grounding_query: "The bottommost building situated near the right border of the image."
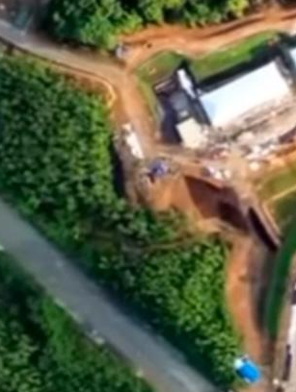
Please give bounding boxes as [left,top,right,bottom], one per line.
[200,61,292,128]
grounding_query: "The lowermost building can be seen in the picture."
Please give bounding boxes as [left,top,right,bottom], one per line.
[178,117,207,149]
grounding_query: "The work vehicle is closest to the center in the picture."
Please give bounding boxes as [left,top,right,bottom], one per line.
[142,163,165,177]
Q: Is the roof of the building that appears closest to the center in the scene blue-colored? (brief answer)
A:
No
